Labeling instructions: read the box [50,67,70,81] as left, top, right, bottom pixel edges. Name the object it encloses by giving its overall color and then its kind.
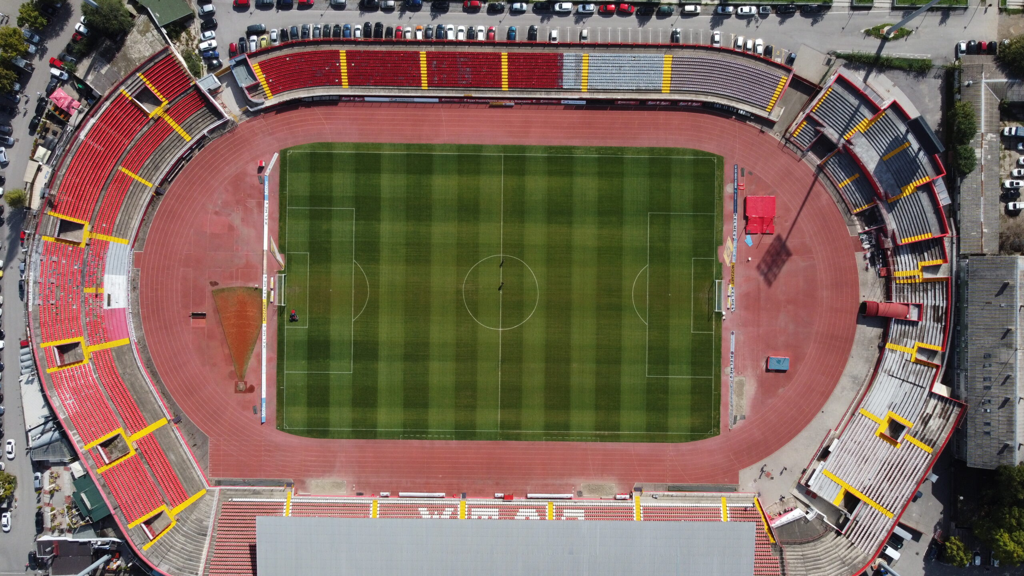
white car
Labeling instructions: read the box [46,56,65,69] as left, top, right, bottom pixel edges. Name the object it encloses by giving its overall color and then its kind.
red vehicle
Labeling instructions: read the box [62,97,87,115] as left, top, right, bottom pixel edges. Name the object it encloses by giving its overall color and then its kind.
pink umbrella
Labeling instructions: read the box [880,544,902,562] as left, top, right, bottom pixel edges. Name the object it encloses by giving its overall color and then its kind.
white vehicle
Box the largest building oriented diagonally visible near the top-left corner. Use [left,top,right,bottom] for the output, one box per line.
[66,15,169,95]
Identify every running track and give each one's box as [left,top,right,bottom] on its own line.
[134,104,869,497]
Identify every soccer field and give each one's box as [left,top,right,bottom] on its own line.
[277,142,723,443]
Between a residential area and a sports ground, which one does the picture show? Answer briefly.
sports ground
